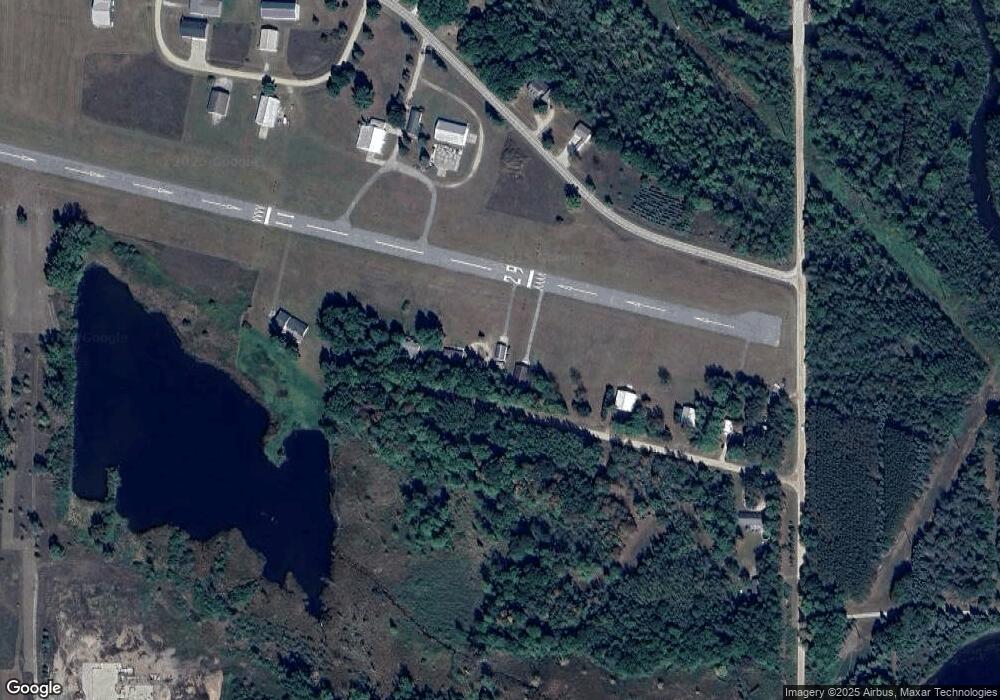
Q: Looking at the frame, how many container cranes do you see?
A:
zero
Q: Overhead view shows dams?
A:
No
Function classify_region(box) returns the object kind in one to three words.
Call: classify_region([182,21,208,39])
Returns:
house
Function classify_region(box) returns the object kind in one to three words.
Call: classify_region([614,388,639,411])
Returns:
barn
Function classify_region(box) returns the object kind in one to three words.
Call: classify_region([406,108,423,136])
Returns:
shed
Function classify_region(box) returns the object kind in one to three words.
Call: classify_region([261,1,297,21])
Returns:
house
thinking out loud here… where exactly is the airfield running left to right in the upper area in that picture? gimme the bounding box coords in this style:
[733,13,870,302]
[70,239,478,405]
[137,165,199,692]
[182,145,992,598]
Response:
[0,144,782,348]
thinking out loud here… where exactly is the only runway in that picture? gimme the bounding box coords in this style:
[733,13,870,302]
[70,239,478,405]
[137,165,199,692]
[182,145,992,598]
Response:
[0,144,782,348]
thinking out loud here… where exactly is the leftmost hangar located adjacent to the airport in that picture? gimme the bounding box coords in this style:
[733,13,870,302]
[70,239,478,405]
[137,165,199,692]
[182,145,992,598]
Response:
[356,118,387,154]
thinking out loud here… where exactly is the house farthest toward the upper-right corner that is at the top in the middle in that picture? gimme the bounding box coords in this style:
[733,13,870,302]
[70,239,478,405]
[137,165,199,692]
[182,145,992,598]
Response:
[566,122,593,144]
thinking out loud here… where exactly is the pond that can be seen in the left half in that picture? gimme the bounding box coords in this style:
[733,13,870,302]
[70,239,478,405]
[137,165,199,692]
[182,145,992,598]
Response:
[74,263,337,611]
